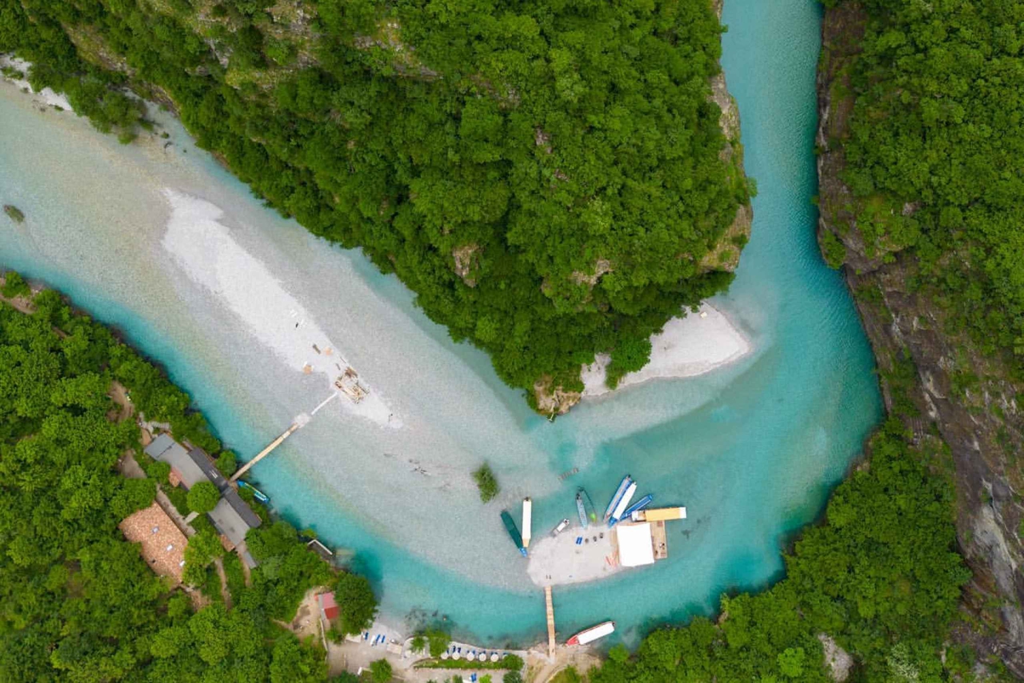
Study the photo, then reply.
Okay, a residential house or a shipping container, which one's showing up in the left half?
residential house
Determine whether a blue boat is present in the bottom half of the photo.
Yes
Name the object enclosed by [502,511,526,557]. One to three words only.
boat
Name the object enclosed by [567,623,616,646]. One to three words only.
boat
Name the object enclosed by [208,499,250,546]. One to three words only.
building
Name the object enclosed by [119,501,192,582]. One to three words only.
house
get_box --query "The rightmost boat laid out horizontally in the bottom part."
[631,508,687,523]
